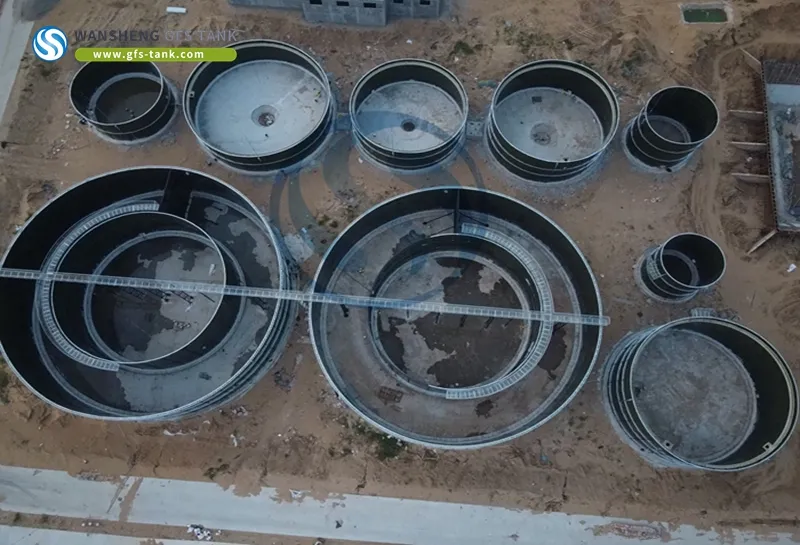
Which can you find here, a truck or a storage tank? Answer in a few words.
storage tank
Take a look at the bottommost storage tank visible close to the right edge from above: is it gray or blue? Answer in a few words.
gray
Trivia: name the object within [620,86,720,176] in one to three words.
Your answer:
storage tank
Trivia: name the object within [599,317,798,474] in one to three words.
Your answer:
storage tank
